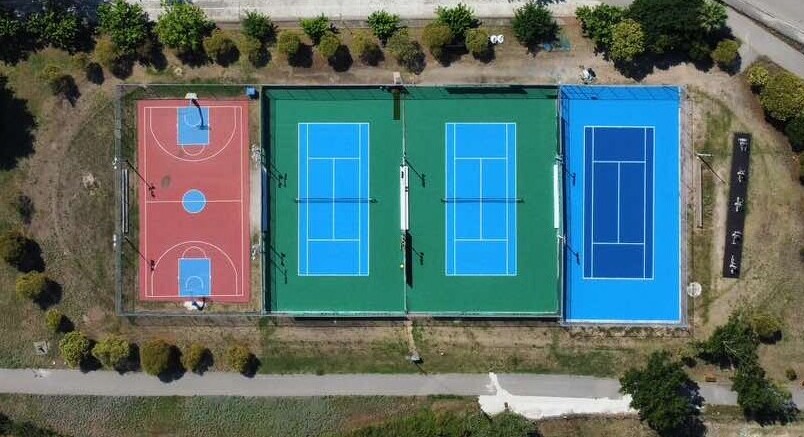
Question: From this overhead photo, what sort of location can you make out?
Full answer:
This looks like a sports ground.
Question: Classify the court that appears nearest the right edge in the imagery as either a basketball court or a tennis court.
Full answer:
I'd say the court that appears nearest the right edge is a tennis court.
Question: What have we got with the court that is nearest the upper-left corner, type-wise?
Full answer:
In the photo, the court that is nearest the upper-left corner shows up as a basketball court.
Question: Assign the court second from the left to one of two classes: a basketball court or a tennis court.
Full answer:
It turns out the court second from the left is a tennis court.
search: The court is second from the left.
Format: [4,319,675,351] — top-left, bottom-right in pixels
[264,88,405,312]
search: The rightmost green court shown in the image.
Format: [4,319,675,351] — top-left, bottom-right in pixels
[405,88,558,312]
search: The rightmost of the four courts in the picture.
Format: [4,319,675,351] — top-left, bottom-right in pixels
[561,88,681,321]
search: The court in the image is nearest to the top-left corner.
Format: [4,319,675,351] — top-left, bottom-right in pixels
[137,98,250,301]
